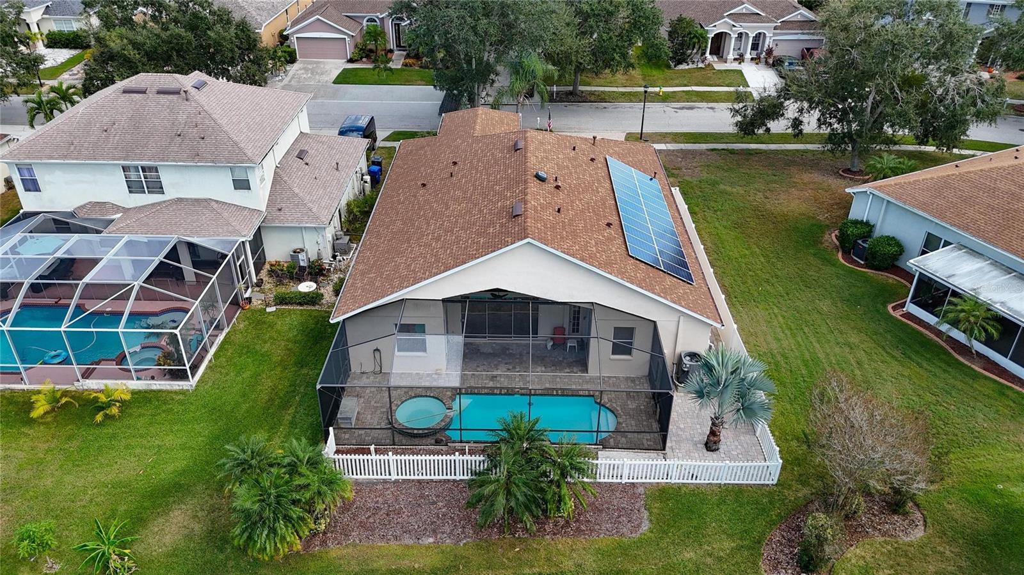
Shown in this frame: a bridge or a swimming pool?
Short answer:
swimming pool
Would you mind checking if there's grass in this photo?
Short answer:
Yes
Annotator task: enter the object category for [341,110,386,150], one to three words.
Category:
car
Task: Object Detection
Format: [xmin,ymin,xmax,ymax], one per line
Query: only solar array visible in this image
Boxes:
[607,153,699,282]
